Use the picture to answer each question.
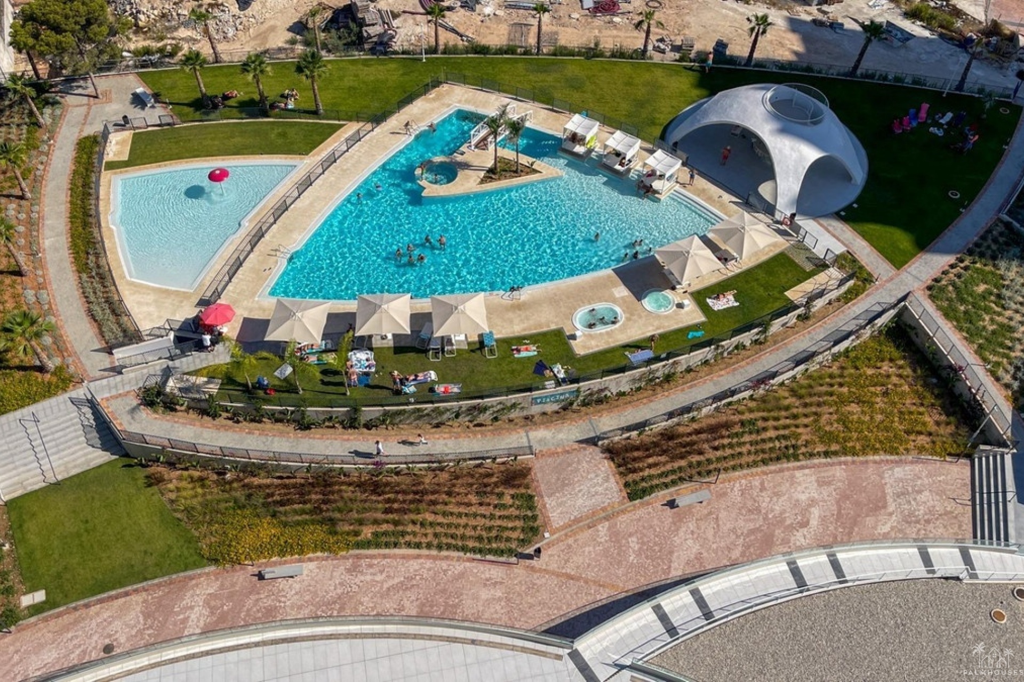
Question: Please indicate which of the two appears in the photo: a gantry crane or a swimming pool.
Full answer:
Visible in the photo is a swimming pool.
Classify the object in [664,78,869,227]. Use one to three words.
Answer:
building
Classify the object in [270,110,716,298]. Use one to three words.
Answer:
swimming pool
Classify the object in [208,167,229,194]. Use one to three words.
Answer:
fountain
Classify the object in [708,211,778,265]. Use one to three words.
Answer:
umbrella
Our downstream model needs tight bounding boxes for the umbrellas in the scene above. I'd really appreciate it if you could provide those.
[654,235,724,288]
[356,293,412,344]
[198,300,238,341]
[267,299,330,351]
[430,293,488,344]
[708,211,778,265]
